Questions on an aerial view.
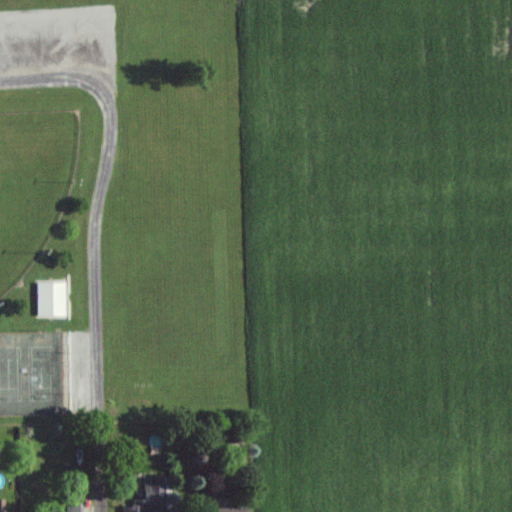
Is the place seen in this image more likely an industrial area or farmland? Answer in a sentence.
This image shows farmland.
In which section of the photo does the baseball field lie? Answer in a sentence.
Look in the left portion of the view to spot the baseball field.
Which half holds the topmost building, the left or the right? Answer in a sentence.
The topmost building is on the left side of the image.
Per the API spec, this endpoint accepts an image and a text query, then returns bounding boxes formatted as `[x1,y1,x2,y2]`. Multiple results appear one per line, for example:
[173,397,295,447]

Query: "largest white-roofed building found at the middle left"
[38,280,67,318]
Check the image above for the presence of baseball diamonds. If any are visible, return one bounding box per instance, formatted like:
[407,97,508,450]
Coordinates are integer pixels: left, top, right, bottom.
[0,110,81,301]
